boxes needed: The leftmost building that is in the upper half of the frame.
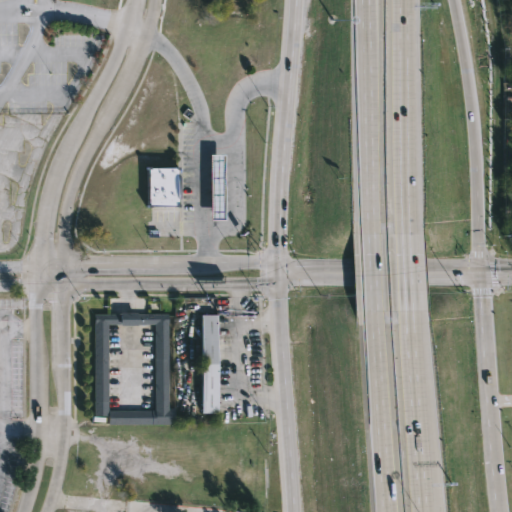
[147,167,182,207]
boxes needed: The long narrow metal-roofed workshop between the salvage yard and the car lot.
[202,315,220,413]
